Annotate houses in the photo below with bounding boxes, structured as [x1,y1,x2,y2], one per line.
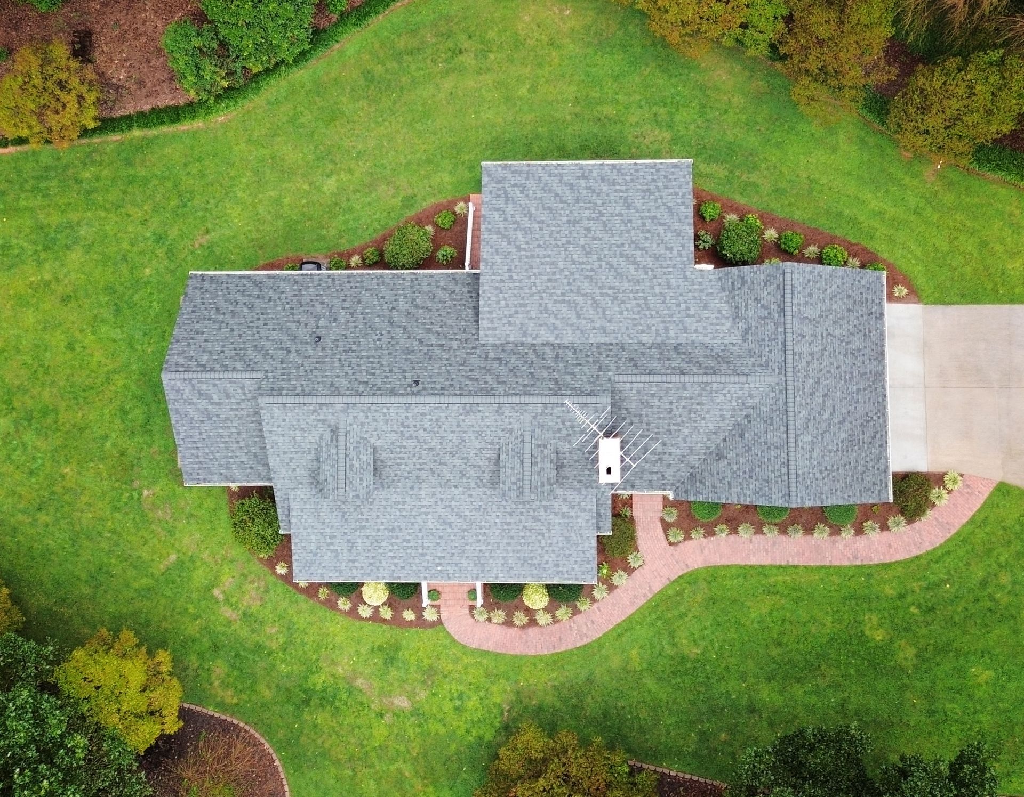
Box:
[163,157,894,587]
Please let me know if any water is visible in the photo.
No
